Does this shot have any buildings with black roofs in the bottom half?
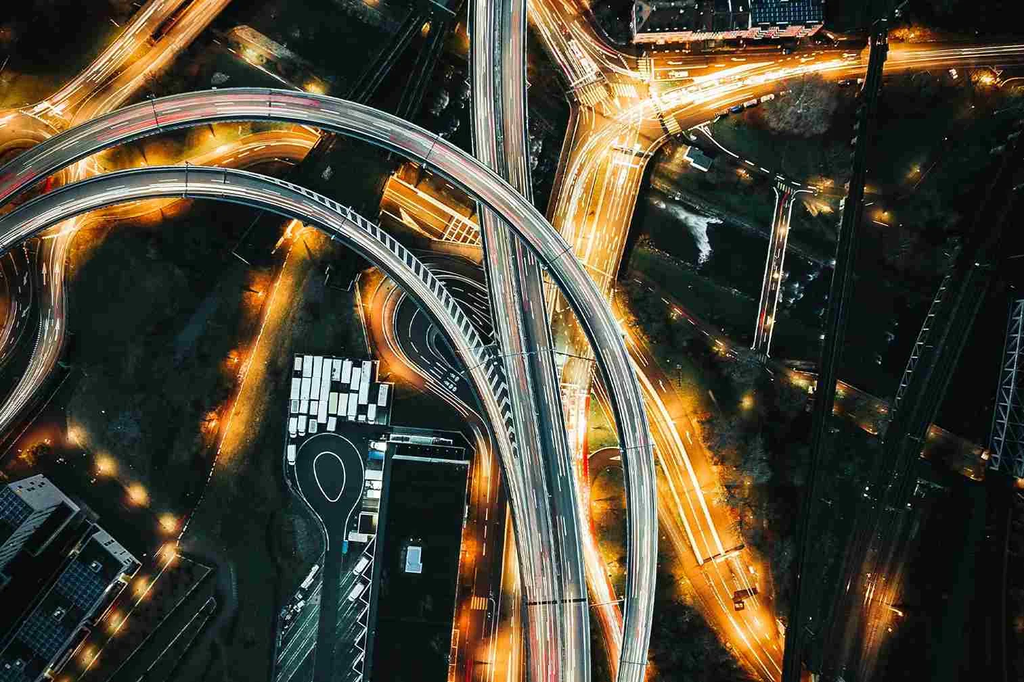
Yes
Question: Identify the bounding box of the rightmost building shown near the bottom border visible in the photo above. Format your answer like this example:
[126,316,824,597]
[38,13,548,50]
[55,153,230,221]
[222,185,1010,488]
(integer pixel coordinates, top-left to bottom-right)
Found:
[358,455,470,682]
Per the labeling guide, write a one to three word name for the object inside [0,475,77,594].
building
